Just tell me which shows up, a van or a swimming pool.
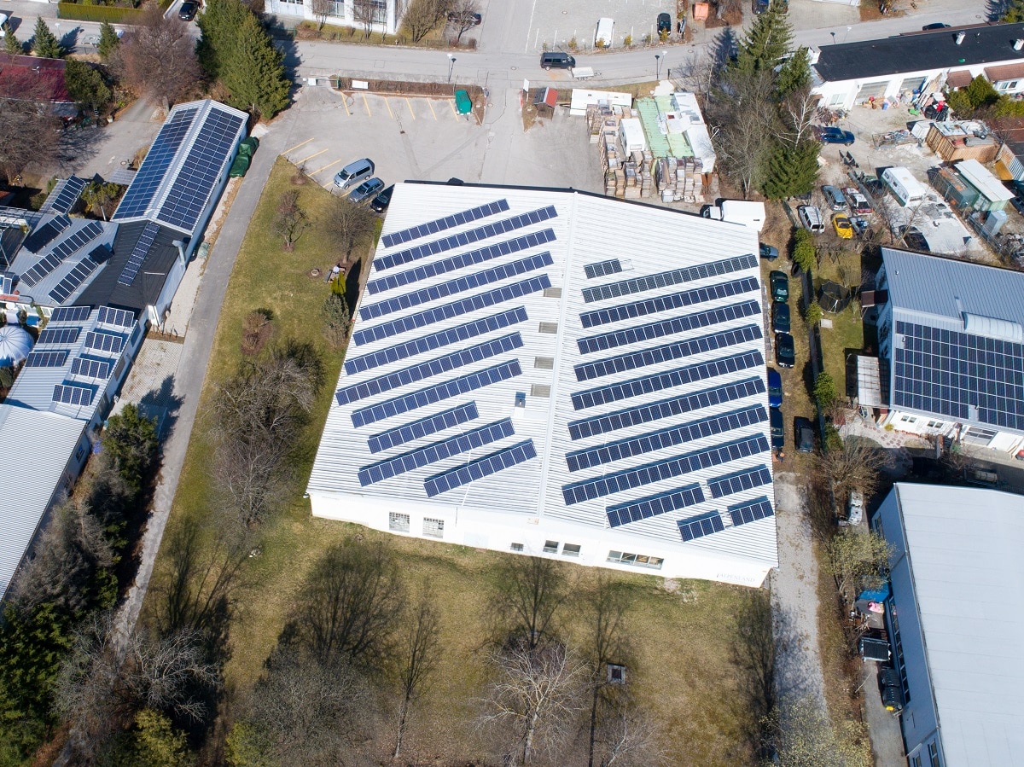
van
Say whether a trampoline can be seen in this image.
Yes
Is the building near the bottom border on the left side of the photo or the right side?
right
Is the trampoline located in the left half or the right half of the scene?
right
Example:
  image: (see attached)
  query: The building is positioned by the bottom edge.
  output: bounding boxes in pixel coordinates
[869,483,1024,767]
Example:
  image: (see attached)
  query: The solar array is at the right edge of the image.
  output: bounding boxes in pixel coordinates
[894,320,1024,431]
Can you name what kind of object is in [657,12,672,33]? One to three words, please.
car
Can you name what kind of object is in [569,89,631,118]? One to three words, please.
shed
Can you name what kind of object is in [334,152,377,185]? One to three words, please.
van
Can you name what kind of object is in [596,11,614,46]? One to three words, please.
vehicle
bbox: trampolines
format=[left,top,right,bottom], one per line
[816,275,858,313]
